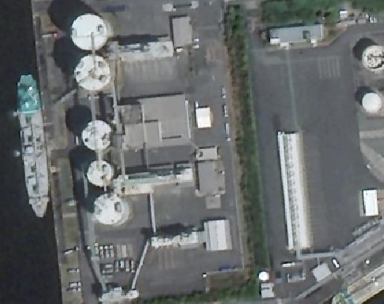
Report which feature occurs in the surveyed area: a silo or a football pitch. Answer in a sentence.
There is a silo in the scene.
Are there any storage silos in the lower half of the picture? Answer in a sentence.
Yes, a storage silo is visible in the lower half of the picture.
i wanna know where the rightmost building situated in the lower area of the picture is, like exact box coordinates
[365,189,379,216]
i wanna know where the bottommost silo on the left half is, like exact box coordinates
[93,194,130,226]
